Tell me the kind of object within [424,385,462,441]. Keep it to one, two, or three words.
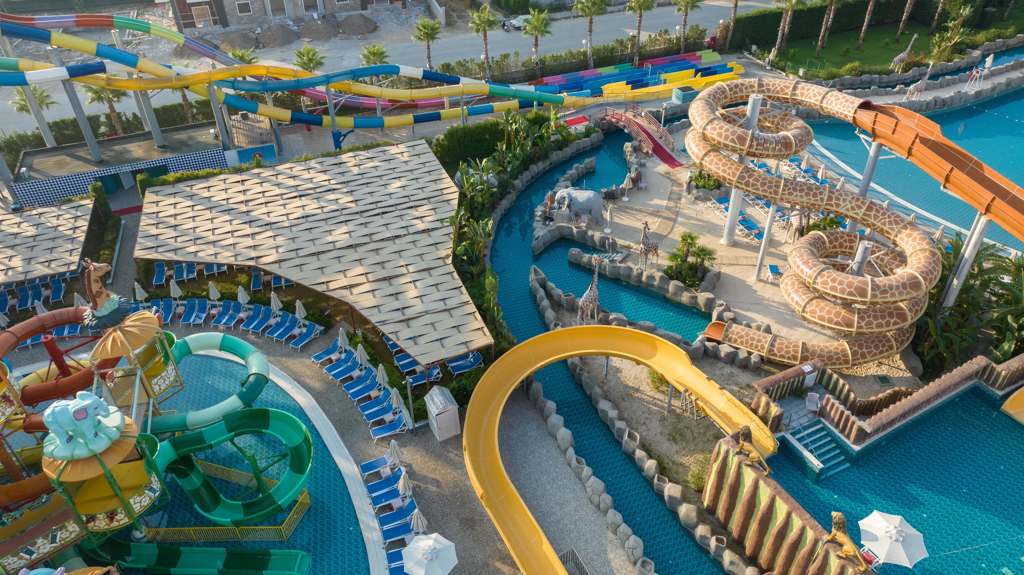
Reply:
shed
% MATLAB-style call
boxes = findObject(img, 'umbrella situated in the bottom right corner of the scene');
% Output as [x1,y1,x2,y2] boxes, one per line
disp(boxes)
[852,509,932,574]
